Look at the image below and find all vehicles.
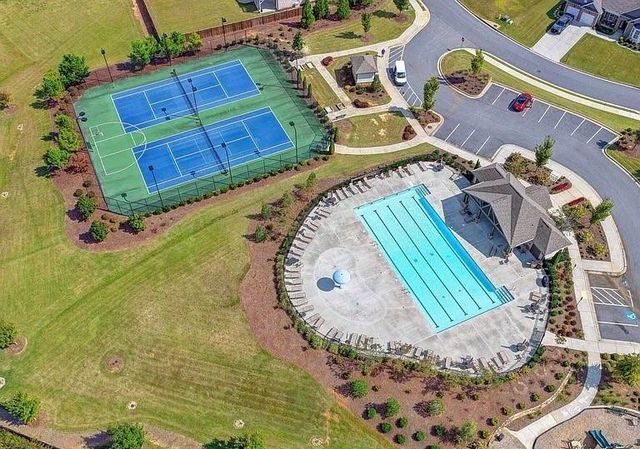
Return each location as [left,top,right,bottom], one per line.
[552,12,574,33]
[394,61,409,84]
[512,92,532,111]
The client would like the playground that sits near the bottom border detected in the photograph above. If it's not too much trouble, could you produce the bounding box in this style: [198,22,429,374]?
[532,407,640,449]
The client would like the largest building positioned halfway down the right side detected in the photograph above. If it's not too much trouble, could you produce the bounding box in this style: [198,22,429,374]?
[459,162,572,266]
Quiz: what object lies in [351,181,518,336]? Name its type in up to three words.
swimming pool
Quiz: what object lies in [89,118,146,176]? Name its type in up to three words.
basketball court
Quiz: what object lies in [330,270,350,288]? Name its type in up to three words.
fountain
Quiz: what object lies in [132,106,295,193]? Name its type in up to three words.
tennis court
